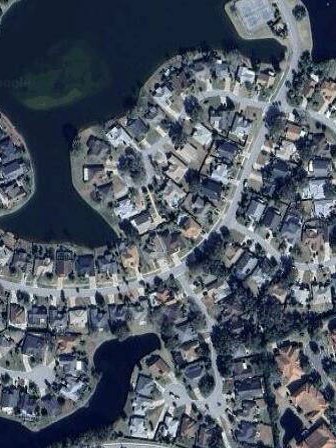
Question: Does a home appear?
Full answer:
Yes, the image includes a home.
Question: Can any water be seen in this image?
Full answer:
Yes, the picture does contain water.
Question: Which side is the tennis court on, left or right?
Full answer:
You can find the tennis court on the right side of the picture.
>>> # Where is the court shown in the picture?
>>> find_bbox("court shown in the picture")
[231,0,275,36]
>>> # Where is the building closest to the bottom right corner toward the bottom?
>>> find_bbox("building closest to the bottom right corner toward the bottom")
[296,422,336,448]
